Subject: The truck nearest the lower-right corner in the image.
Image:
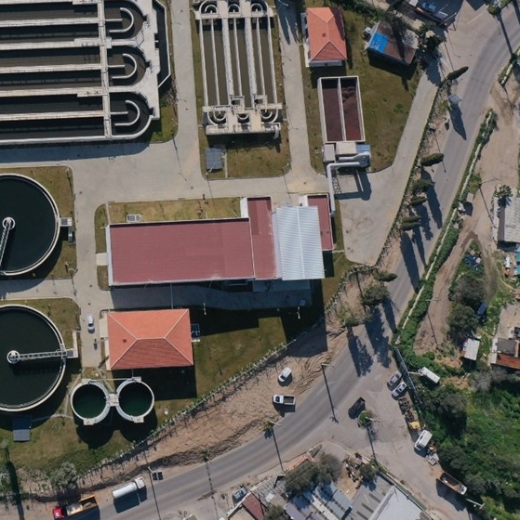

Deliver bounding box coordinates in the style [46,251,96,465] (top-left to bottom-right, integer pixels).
[438,473,471,497]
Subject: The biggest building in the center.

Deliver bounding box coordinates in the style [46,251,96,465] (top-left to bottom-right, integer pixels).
[104,197,312,311]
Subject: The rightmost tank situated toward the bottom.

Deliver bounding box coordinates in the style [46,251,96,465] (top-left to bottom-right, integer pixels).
[116,376,155,423]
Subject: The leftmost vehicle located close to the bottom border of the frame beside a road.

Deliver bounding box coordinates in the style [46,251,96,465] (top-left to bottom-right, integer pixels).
[55,499,99,519]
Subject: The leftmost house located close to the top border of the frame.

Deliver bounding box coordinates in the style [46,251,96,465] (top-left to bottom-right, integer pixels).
[301,7,348,66]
